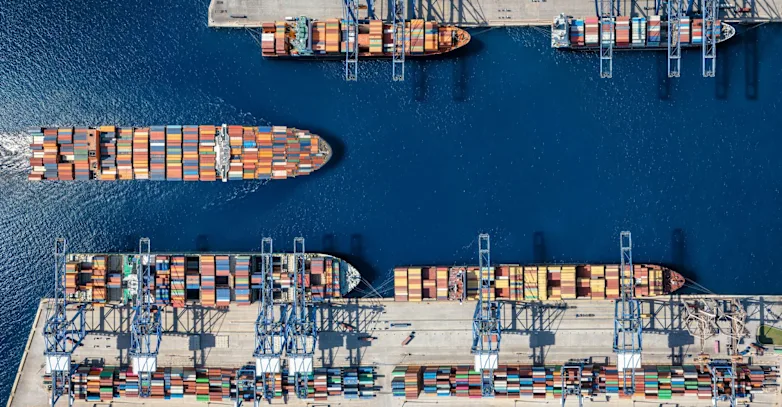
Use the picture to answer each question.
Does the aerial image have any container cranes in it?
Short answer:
Yes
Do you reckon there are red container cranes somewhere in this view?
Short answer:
No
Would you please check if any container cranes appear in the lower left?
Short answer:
Yes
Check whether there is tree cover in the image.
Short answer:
No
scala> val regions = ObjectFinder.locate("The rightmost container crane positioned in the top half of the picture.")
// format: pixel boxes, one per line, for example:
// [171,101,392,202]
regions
[675,0,723,79]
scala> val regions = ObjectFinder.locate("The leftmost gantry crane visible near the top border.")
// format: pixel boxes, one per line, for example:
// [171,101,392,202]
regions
[338,0,370,79]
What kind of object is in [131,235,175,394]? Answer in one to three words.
container crane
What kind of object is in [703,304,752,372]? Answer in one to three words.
container crane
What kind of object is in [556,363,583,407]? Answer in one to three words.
crane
